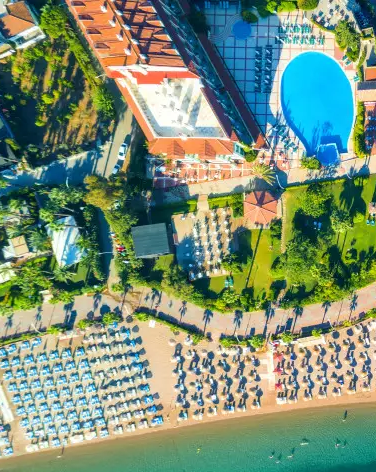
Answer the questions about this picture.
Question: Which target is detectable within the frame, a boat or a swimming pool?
swimming pool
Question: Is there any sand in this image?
Yes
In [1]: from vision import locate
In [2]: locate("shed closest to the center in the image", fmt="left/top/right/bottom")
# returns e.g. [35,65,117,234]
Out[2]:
[131,222,173,258]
